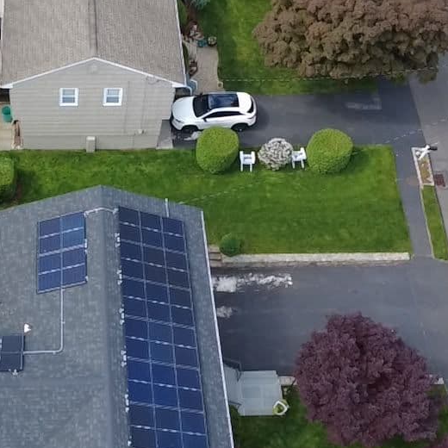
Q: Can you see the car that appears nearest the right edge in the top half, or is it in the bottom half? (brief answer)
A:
top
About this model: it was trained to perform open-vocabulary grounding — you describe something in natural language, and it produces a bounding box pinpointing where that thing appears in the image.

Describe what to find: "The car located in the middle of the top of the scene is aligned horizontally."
[172,93,260,136]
